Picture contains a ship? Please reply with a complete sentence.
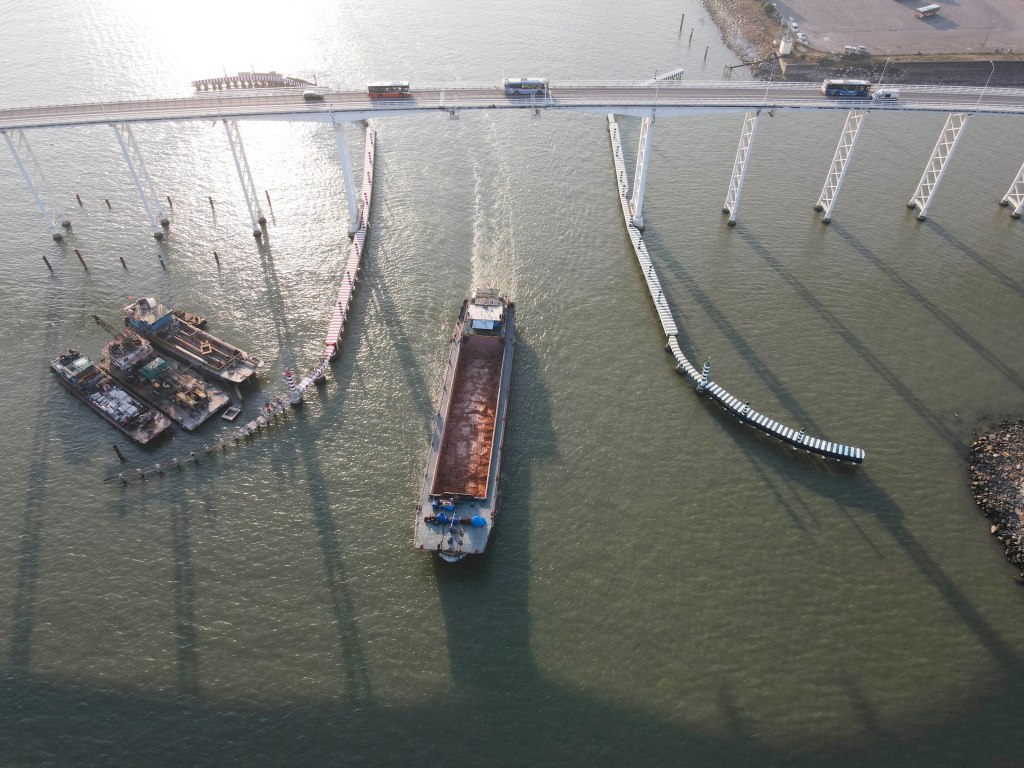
Yes, you can see a ship in this photo.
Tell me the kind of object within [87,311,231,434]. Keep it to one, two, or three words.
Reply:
ship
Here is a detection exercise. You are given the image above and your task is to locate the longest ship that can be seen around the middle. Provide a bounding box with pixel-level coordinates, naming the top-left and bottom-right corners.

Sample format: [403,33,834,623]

[414,287,515,553]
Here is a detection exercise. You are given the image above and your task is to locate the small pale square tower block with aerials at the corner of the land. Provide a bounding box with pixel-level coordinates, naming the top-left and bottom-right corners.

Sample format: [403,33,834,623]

[780,13,799,56]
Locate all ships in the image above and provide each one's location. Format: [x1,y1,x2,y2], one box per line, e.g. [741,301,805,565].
[49,345,170,448]
[117,293,261,397]
[414,287,515,553]
[87,311,231,434]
